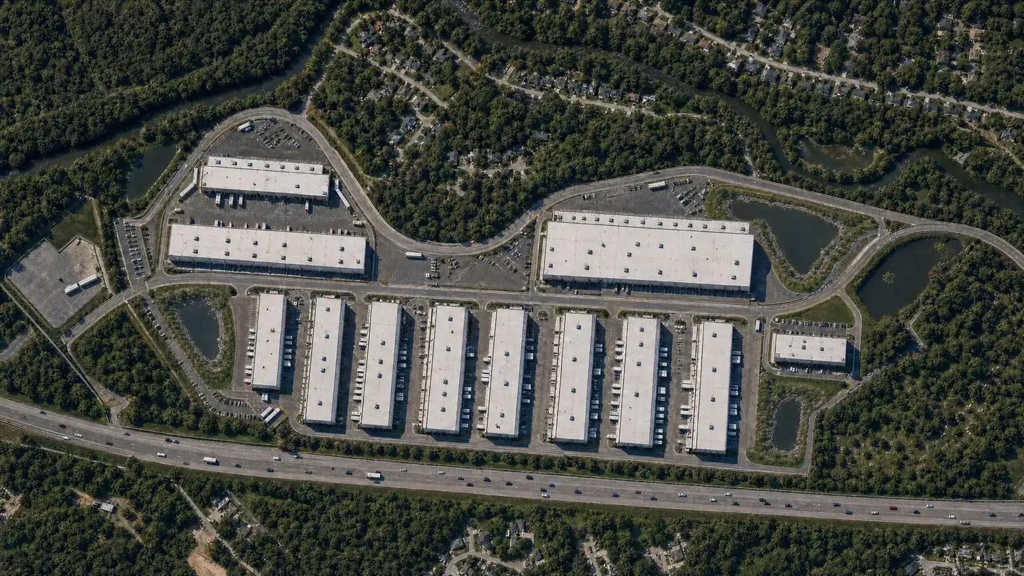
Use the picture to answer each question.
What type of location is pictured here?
residential area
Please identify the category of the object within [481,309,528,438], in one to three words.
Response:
building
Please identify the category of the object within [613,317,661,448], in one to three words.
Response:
building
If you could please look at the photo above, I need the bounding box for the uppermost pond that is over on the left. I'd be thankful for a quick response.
[125,144,179,201]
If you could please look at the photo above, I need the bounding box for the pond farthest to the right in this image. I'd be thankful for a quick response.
[857,238,963,322]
